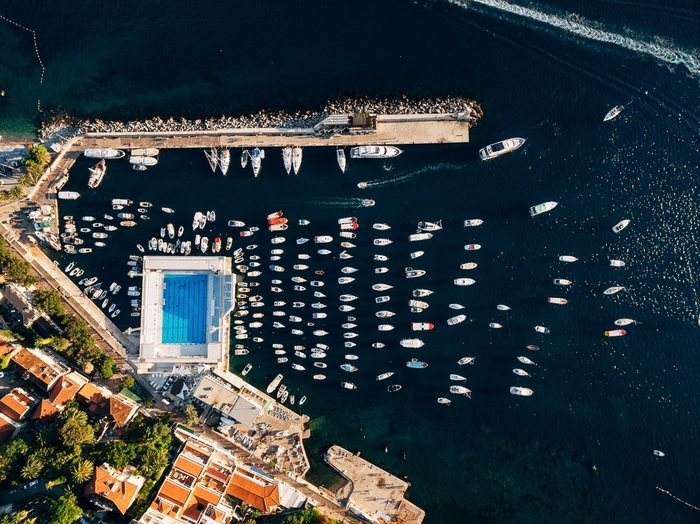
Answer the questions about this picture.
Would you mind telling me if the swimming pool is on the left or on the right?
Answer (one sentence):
The swimming pool is on the left side of the image.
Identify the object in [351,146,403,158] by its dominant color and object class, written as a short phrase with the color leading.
white boat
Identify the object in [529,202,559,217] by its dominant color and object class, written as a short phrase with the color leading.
white boat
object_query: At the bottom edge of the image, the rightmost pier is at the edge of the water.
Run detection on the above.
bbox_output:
[327,445,427,524]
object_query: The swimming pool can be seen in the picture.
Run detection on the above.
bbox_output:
[141,256,237,372]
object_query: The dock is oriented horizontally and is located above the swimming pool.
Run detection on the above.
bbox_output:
[83,113,470,150]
